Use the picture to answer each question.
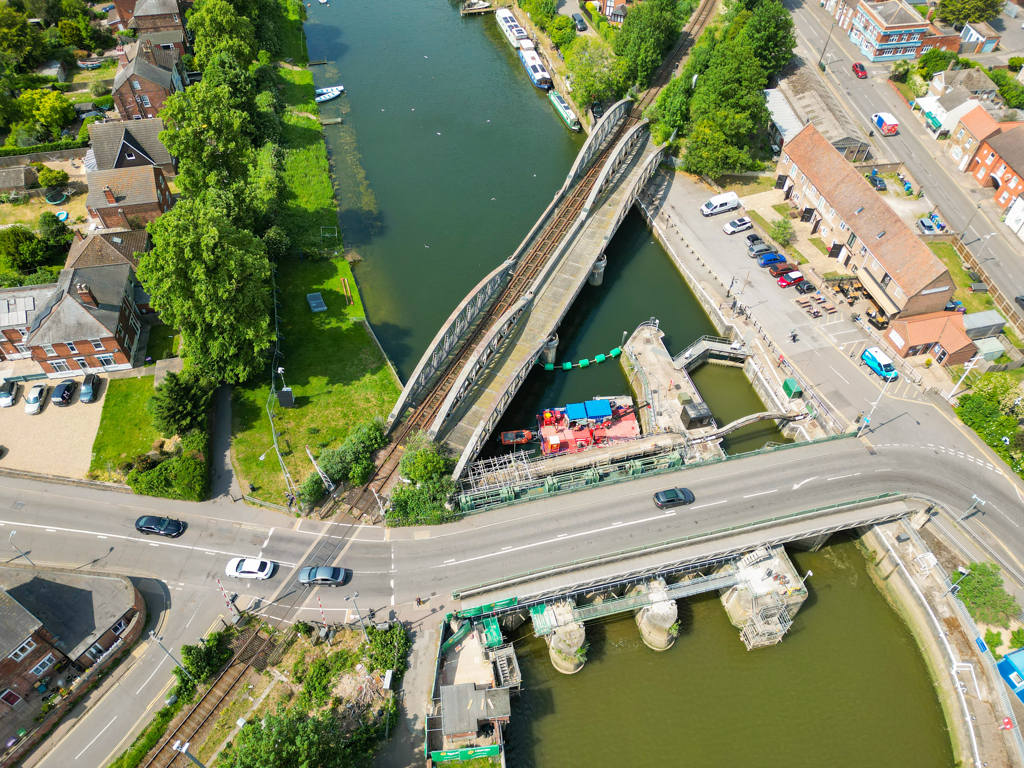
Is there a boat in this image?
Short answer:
Yes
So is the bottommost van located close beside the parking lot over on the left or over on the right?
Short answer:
right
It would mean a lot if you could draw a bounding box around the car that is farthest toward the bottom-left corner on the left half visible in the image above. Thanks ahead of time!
[133,516,185,540]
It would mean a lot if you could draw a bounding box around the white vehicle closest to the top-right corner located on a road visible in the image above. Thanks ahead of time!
[869,110,903,135]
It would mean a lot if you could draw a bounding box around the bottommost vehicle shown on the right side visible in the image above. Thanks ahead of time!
[653,485,694,509]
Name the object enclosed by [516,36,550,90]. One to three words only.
boat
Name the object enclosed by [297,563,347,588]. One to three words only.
car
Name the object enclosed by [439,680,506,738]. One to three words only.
building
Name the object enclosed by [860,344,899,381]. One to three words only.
van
